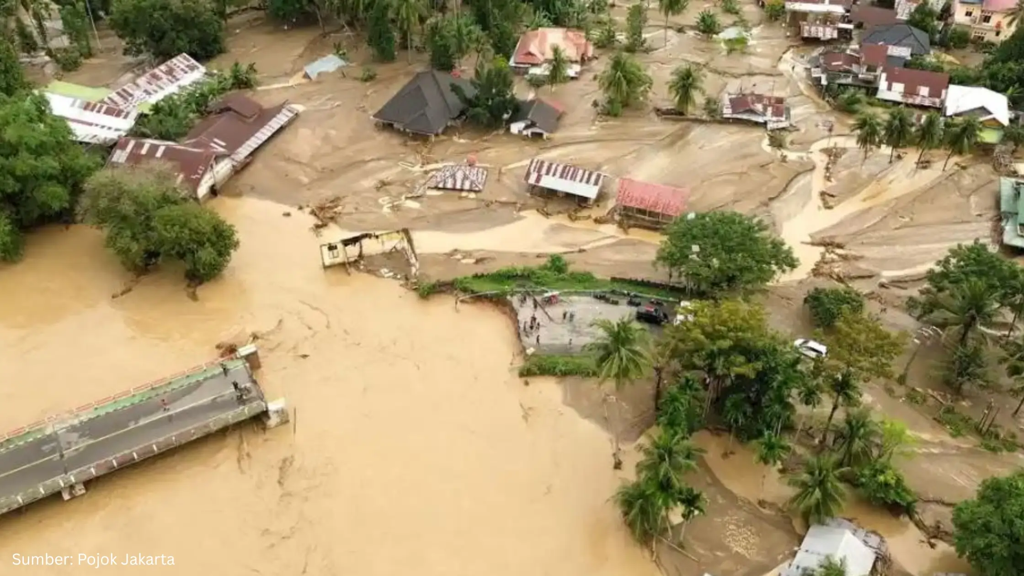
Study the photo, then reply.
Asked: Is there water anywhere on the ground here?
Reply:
Yes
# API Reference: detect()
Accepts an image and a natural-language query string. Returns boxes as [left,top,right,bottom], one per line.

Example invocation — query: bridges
[0,345,285,511]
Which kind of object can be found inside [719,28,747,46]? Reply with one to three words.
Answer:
house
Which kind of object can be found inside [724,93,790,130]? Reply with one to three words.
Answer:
house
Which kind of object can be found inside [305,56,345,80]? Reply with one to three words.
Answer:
shed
